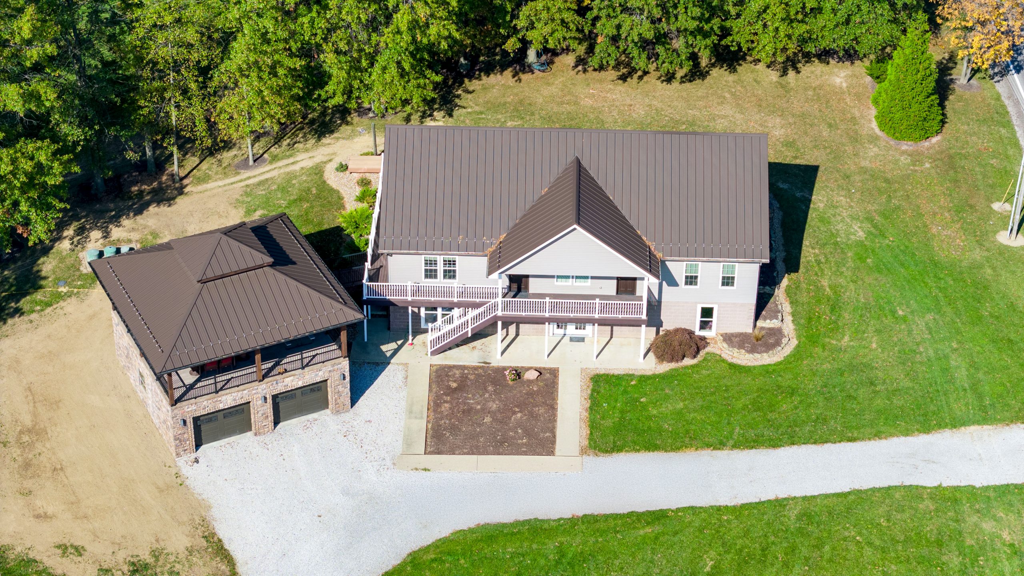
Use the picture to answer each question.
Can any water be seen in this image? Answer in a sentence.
No, the picture contains no water.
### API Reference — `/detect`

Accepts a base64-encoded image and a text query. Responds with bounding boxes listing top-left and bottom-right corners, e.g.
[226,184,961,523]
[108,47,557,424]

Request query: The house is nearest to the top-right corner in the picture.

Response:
[362,124,769,361]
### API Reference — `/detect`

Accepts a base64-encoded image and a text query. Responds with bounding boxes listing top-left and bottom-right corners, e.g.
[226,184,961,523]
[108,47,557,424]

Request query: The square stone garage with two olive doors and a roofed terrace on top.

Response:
[85,211,369,460]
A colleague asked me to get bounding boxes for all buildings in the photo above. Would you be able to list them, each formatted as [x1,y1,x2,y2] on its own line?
[362,124,769,361]
[85,211,369,460]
